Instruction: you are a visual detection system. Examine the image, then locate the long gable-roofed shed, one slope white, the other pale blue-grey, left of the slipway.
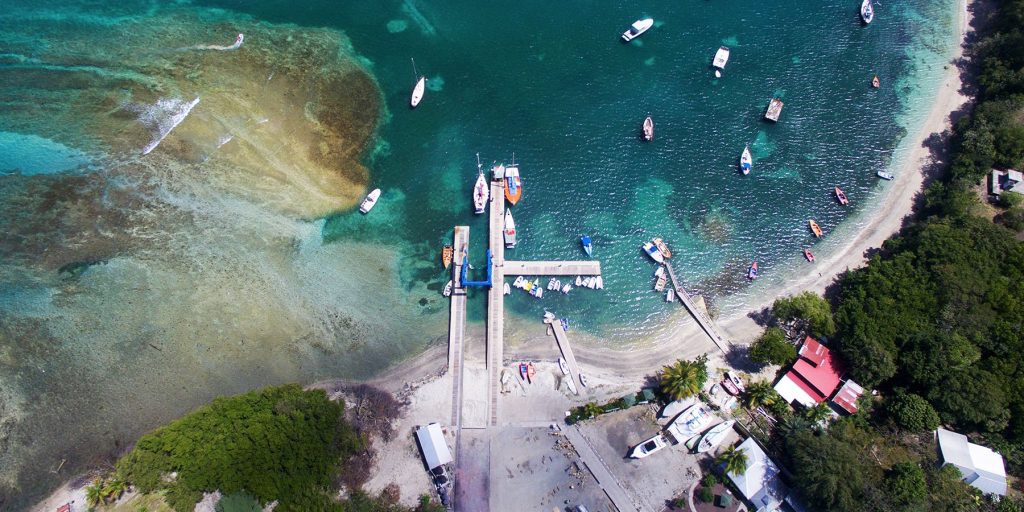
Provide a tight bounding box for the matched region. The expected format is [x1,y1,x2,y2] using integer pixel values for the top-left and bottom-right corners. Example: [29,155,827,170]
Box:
[417,423,453,471]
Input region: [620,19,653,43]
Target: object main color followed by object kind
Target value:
white boat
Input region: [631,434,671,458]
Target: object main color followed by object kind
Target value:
white boat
